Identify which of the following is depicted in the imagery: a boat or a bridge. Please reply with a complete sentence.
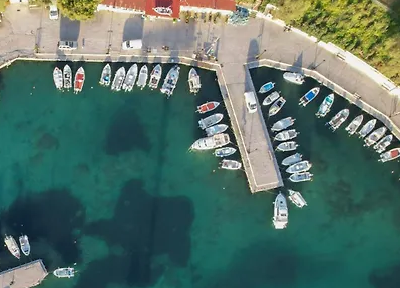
The image shows a boat.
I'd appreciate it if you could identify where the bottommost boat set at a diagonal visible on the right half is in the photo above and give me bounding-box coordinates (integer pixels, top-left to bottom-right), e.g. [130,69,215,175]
[287,189,305,207]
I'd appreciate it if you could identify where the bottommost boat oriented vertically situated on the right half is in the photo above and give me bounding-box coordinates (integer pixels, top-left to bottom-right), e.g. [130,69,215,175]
[269,185,289,231]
